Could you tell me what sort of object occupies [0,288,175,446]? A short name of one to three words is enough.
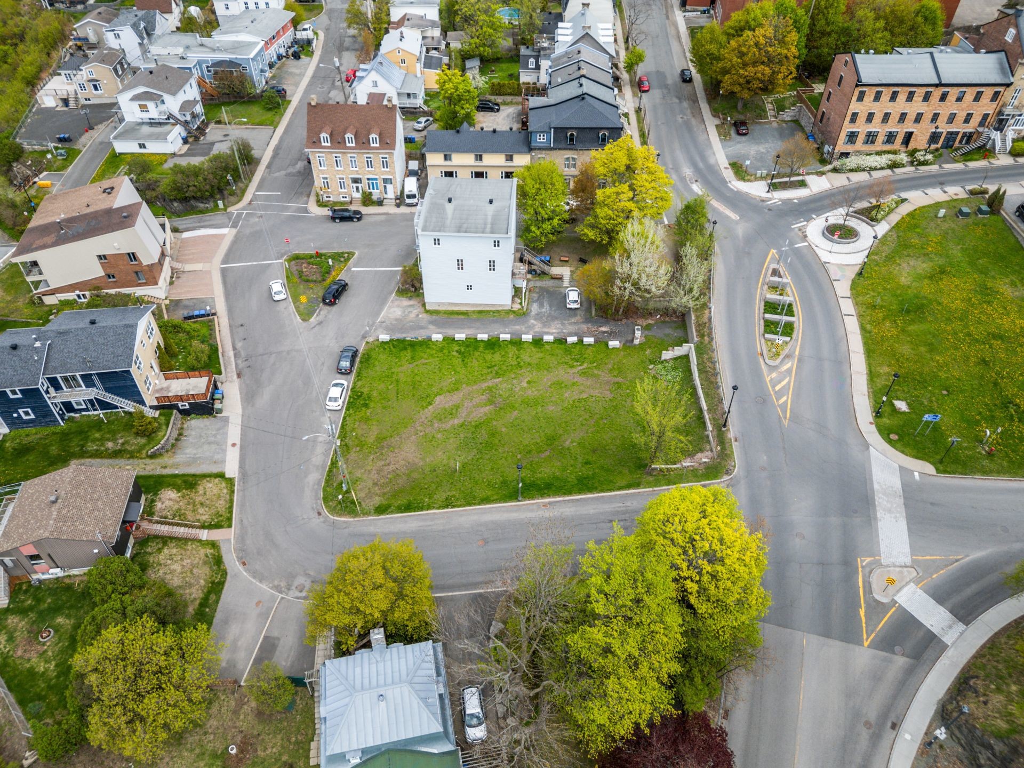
house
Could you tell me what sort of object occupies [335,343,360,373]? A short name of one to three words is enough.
car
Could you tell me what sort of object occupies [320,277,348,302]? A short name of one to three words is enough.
car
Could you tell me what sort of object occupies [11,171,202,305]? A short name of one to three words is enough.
house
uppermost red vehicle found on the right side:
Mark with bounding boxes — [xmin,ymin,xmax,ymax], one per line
[638,76,651,89]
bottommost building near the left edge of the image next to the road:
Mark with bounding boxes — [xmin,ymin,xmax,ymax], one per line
[0,459,208,583]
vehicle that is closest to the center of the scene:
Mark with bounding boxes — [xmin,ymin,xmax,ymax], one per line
[564,285,582,310]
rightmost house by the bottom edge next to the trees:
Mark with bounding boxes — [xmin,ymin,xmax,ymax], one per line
[321,627,466,768]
